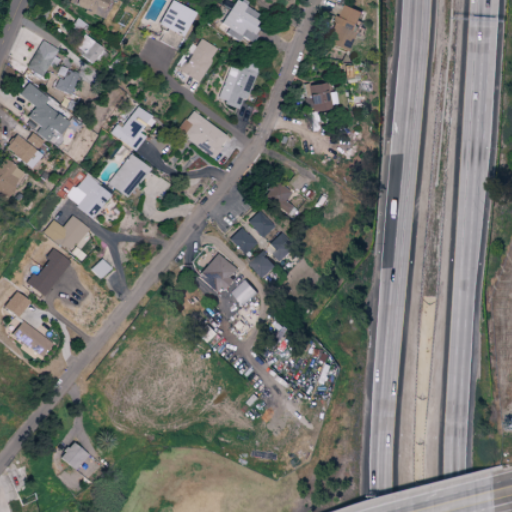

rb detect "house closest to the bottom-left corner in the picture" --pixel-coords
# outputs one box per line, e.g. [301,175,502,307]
[62,444,90,470]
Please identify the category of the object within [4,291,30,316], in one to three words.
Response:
house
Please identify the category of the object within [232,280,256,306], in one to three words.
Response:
building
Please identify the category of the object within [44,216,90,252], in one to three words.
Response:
house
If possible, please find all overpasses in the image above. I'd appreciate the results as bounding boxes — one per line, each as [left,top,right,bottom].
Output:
[334,466,506,512]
